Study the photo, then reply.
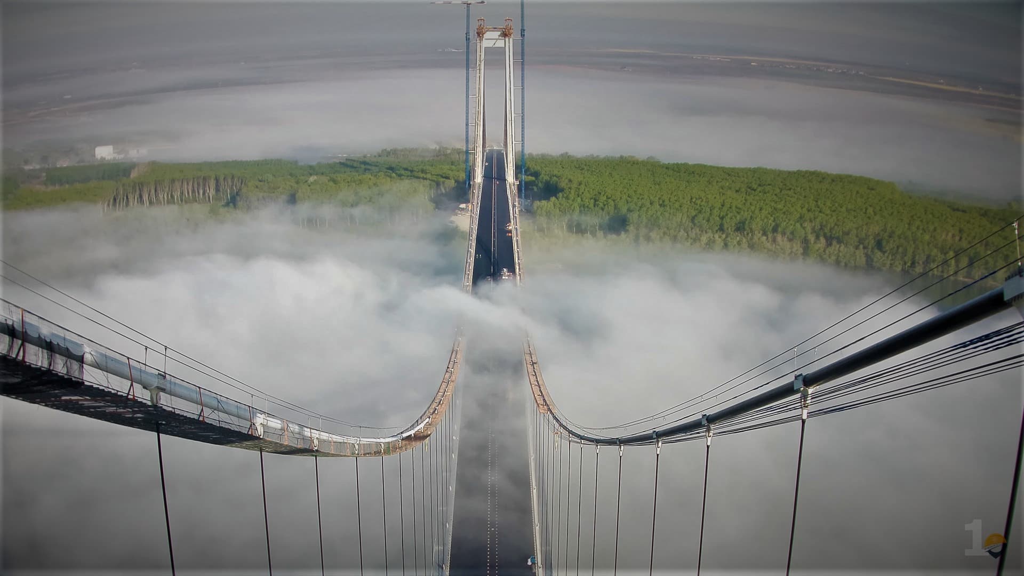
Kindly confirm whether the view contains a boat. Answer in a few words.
No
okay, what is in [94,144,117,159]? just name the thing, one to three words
building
